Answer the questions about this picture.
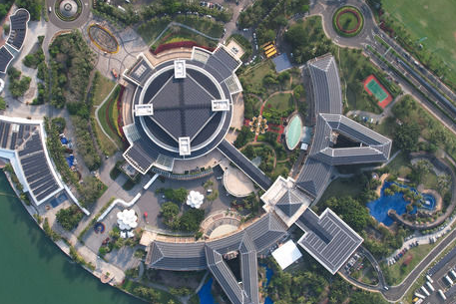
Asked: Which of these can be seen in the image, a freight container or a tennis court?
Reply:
tennis court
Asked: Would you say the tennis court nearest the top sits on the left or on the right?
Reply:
right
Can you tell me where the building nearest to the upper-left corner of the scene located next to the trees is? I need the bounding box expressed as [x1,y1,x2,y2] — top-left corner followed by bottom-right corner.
[6,8,32,53]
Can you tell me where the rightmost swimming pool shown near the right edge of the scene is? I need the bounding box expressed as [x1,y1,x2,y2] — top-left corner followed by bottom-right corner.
[418,185,440,213]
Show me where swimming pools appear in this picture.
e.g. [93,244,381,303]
[261,265,275,304]
[285,113,304,151]
[50,195,70,209]
[418,185,440,213]
[367,179,420,227]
